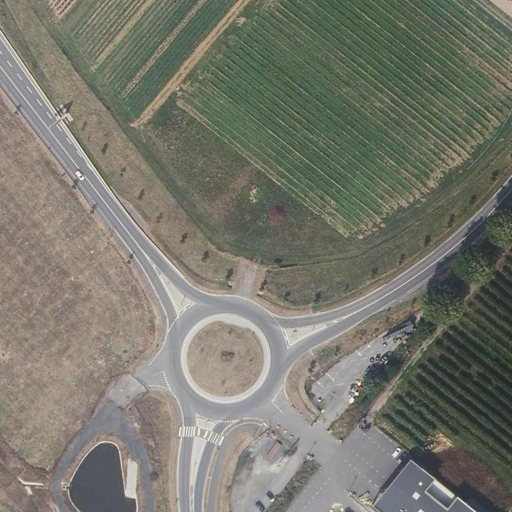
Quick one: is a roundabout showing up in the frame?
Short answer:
Yes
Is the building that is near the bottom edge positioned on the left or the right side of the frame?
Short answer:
right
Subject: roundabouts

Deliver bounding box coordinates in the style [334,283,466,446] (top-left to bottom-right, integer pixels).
[164,295,288,421]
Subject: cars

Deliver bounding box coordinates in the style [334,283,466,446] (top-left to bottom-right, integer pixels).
[392,448,401,459]
[76,169,85,180]
[266,490,274,501]
[398,452,408,463]
[362,422,370,432]
[256,500,265,512]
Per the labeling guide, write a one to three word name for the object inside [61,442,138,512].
pond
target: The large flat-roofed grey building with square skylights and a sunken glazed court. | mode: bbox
[373,459,475,512]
